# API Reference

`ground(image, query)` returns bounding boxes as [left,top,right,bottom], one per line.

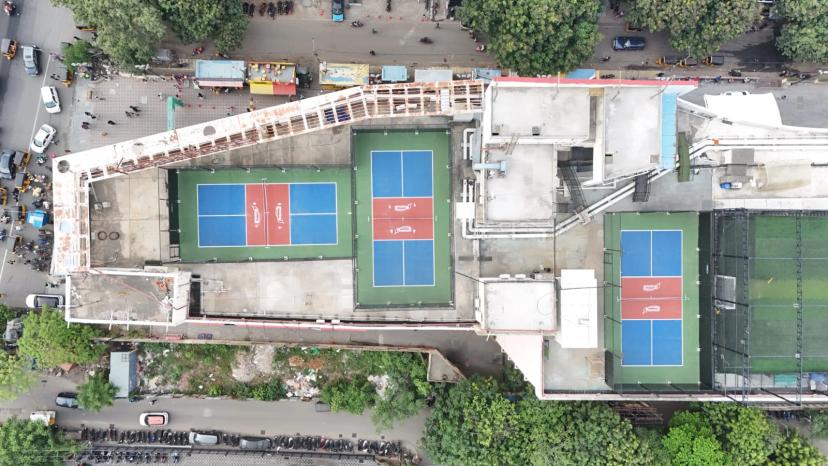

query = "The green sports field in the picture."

[748,214,828,388]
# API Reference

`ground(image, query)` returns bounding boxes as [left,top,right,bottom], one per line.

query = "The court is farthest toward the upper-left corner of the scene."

[179,167,350,262]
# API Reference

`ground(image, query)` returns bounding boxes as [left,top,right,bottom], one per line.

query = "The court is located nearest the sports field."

[603,212,701,390]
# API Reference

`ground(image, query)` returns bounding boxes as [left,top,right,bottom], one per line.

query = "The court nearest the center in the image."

[353,130,452,307]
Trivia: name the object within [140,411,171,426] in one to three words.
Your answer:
car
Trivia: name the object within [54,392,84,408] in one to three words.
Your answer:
car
